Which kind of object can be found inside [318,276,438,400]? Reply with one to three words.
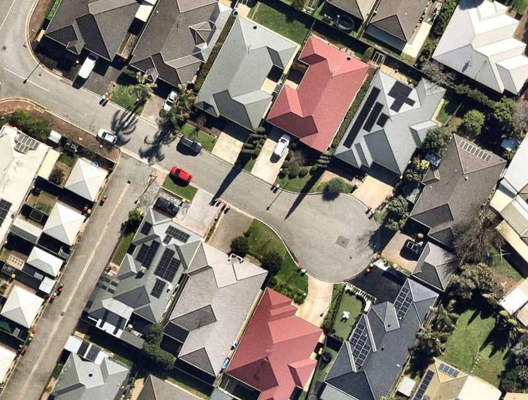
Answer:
house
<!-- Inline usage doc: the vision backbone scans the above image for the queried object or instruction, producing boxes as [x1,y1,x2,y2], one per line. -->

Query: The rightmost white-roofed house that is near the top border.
[433,0,528,100]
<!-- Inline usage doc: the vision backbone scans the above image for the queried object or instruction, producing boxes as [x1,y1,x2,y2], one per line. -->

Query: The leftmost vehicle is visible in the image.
[77,55,94,80]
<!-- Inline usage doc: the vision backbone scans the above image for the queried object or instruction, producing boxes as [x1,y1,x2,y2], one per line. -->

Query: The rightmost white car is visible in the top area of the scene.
[272,133,290,158]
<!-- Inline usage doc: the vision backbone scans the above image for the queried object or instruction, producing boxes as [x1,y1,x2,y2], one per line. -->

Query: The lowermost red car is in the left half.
[170,169,191,182]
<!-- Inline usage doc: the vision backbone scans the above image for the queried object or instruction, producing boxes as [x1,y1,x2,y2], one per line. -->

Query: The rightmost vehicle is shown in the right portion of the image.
[401,240,424,255]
